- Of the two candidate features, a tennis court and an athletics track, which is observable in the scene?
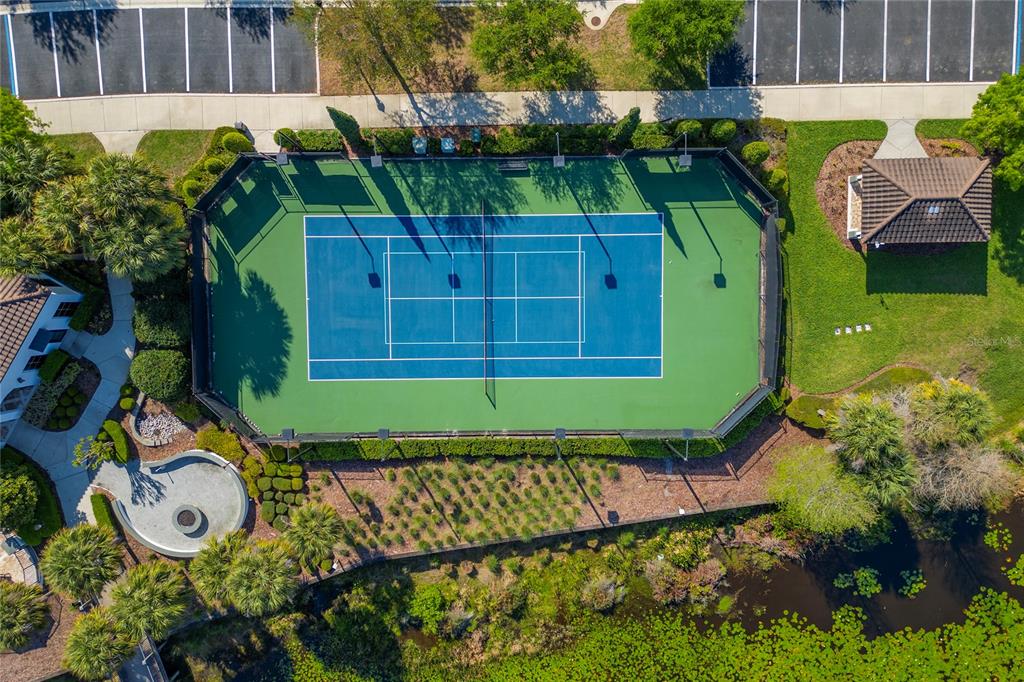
tennis court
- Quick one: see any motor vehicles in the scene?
No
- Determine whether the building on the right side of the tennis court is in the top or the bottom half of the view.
top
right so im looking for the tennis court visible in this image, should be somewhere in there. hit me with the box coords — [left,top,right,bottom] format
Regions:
[211,158,761,432]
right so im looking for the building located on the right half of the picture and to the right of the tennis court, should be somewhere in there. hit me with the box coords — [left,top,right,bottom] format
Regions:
[851,156,992,246]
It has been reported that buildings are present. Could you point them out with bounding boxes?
[0,257,81,445]
[851,156,992,246]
